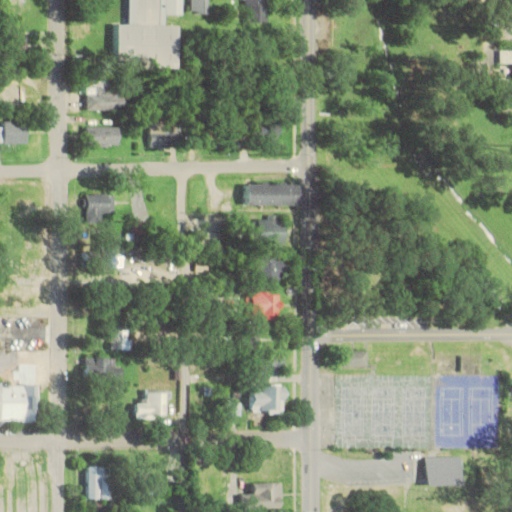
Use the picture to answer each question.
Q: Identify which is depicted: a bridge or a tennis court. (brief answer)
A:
tennis court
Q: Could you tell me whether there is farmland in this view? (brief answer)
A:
No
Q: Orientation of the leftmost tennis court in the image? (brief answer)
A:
from top to bottom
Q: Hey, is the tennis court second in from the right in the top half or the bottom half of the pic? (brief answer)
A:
bottom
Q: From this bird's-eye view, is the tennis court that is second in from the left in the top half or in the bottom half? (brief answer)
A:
bottom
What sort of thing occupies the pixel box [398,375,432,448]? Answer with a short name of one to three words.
tennis court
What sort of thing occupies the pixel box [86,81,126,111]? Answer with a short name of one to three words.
house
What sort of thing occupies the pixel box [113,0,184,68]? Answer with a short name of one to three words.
building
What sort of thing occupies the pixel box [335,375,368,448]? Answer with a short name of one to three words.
tennis court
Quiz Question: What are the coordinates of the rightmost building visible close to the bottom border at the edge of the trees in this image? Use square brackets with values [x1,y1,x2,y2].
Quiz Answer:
[426,458,466,488]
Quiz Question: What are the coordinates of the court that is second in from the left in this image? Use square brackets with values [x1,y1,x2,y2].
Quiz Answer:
[368,375,398,448]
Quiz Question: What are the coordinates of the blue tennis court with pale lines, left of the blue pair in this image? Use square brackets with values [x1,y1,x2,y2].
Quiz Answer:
[436,376,466,448]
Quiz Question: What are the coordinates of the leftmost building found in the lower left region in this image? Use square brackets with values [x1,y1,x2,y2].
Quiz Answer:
[0,364,38,424]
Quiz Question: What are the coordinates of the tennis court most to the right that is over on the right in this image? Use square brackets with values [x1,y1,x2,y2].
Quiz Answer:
[466,376,498,448]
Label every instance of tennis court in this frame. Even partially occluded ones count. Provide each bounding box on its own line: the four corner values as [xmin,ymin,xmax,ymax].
[466,376,498,448]
[368,375,398,448]
[335,375,368,448]
[436,376,466,448]
[398,375,432,448]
